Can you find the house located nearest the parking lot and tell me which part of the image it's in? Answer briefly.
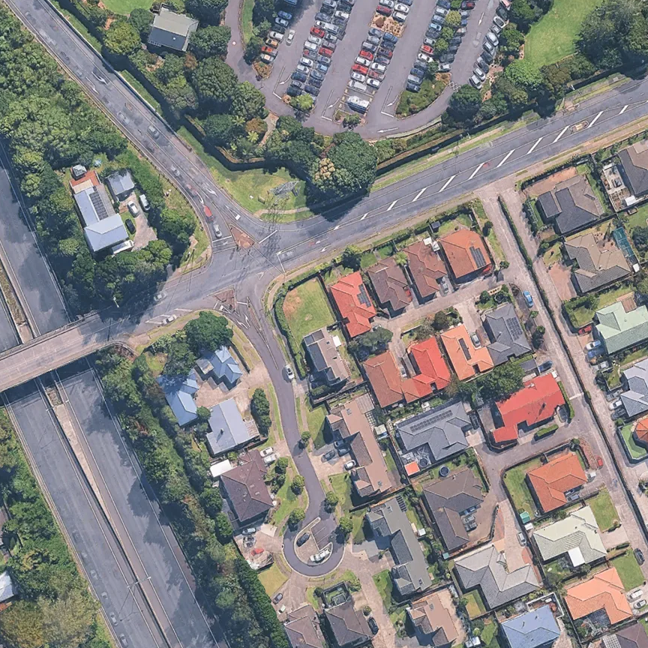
top left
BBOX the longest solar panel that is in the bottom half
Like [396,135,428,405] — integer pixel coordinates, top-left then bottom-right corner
[410,410,452,432]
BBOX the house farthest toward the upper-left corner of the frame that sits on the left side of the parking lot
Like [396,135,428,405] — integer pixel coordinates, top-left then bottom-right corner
[148,4,199,53]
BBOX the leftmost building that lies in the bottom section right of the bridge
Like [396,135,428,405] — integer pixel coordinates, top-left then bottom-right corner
[156,371,198,427]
